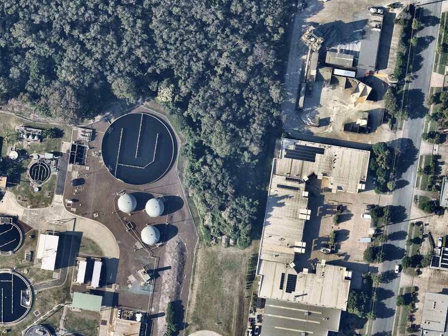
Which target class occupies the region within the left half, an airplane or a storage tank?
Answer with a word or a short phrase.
storage tank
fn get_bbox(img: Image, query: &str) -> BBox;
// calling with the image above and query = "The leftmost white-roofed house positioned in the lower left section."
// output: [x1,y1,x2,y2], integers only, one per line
[34,234,59,270]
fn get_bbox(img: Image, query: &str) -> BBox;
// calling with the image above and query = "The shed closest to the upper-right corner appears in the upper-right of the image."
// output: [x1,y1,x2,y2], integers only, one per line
[354,15,383,71]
